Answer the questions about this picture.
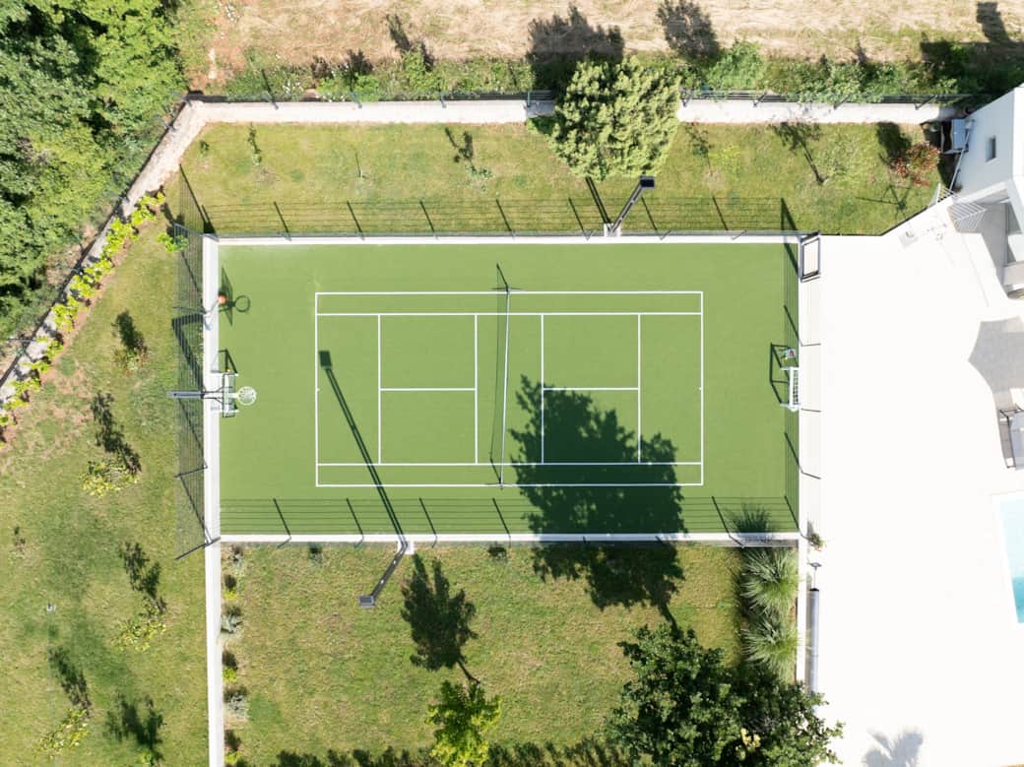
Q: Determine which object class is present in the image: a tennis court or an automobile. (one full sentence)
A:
Looking from above, you can make out a tennis court.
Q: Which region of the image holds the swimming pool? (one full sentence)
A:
The swimming pool is in the bottom right part of the image.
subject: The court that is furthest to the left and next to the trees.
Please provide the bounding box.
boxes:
[217,235,801,544]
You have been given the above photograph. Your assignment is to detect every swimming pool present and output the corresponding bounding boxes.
[987,485,1024,634]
